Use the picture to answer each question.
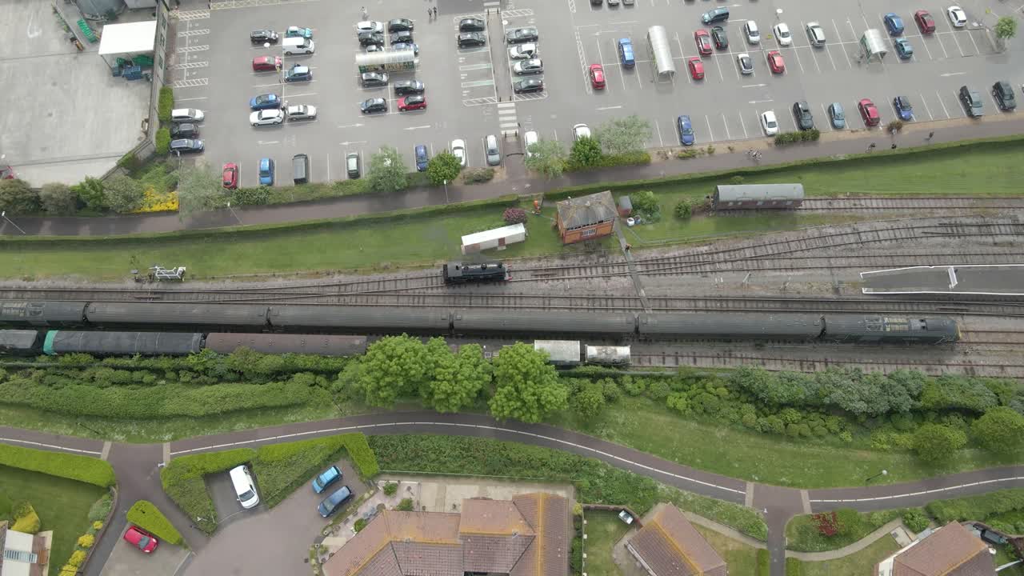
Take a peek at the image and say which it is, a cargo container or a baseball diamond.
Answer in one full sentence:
Visible in the photo is a cargo container.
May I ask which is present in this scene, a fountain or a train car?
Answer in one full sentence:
The image shows a train car.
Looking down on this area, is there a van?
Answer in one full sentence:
Yes, a van appears in the view.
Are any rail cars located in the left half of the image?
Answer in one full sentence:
Yes, the scene does show a rail car in the left half of the image.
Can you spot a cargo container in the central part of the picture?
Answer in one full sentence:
Yes, there is a cargo container in the central part of the picture.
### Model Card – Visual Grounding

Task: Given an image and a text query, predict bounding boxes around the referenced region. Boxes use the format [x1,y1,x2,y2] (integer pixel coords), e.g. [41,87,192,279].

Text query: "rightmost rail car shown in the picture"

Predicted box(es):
[814,315,959,345]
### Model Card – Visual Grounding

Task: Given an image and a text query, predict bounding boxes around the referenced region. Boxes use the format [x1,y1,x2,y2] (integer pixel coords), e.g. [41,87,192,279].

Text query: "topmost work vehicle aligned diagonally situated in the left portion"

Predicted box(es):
[68,30,85,50]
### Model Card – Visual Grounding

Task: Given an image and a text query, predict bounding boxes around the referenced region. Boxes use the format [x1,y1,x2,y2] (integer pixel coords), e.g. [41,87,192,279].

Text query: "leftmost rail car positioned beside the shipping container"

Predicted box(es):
[438,258,511,287]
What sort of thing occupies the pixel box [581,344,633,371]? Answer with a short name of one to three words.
rail car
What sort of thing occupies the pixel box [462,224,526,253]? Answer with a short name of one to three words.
shipping container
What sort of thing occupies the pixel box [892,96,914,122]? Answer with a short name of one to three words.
car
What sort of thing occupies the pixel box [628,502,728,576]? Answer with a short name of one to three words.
house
